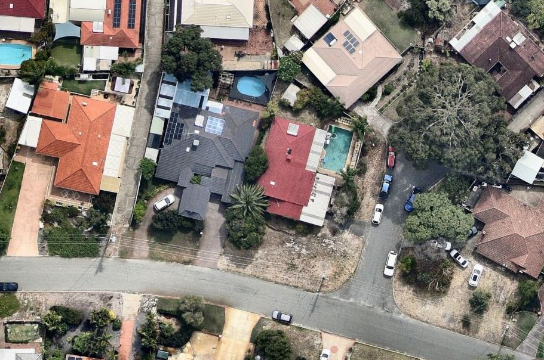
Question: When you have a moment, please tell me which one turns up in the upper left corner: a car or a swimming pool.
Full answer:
The one visible in the upper left corner is a swimming pool.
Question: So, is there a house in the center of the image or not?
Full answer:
Yes, a house can be seen in the center of the image.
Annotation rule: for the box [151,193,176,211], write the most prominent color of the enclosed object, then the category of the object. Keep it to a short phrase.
white car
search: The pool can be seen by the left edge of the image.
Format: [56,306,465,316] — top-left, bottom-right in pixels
[0,42,34,66]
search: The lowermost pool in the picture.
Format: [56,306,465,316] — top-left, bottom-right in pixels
[321,124,355,172]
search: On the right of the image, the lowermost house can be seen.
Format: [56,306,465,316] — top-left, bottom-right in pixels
[472,183,544,275]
